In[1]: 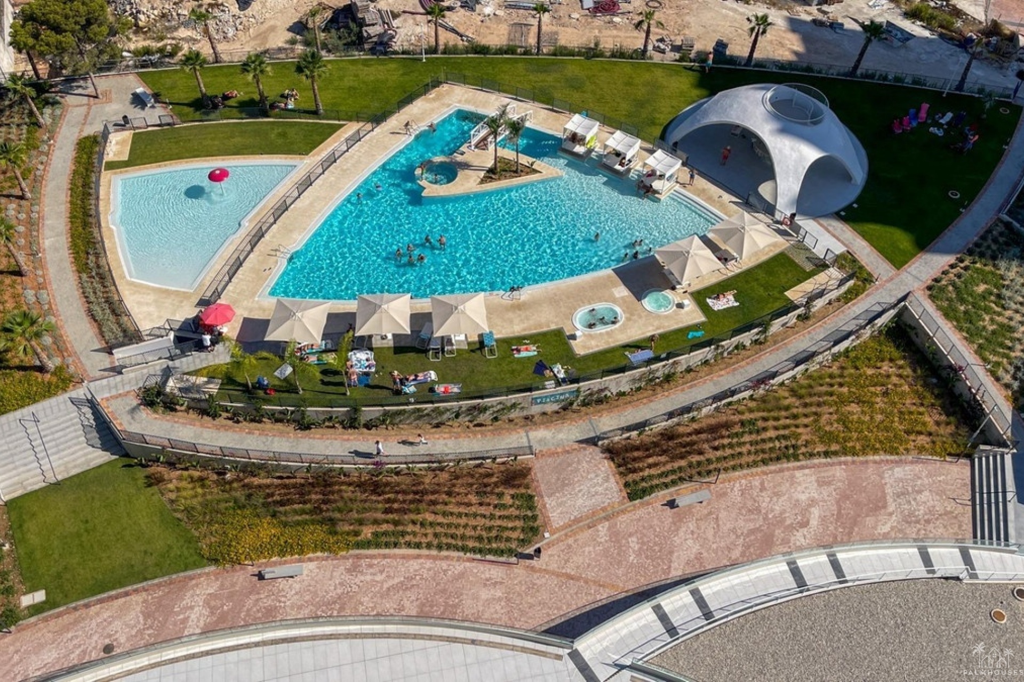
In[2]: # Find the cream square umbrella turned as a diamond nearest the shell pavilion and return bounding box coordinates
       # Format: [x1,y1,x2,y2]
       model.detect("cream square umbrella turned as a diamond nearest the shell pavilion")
[708,211,778,265]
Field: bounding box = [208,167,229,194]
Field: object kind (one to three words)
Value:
fountain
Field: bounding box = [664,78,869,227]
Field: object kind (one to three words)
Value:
building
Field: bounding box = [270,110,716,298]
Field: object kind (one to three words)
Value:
swimming pool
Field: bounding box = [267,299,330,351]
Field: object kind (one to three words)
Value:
umbrella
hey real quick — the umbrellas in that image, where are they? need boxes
[198,300,238,341]
[708,211,778,265]
[430,293,488,344]
[267,299,330,351]
[356,293,412,344]
[654,235,724,288]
